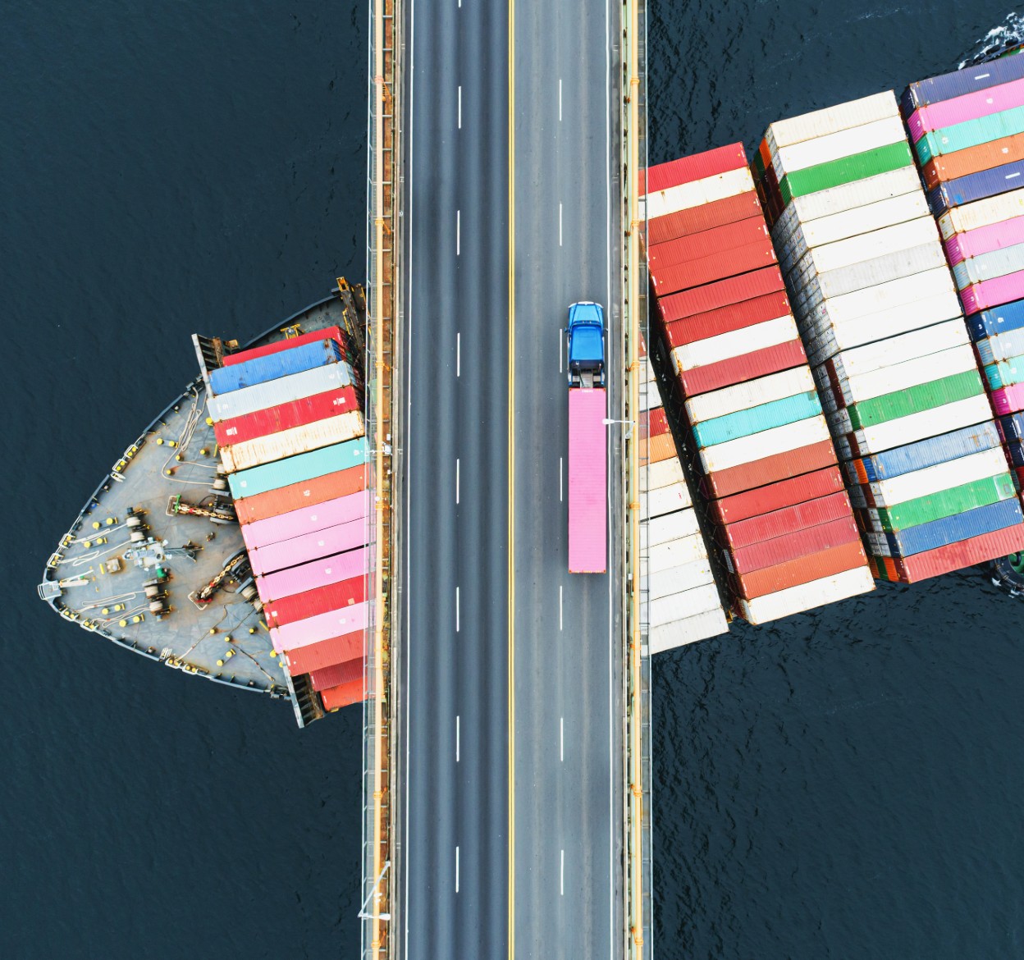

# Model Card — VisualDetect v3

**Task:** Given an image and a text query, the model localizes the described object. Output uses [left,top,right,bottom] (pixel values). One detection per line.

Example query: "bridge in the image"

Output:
[361,0,653,960]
